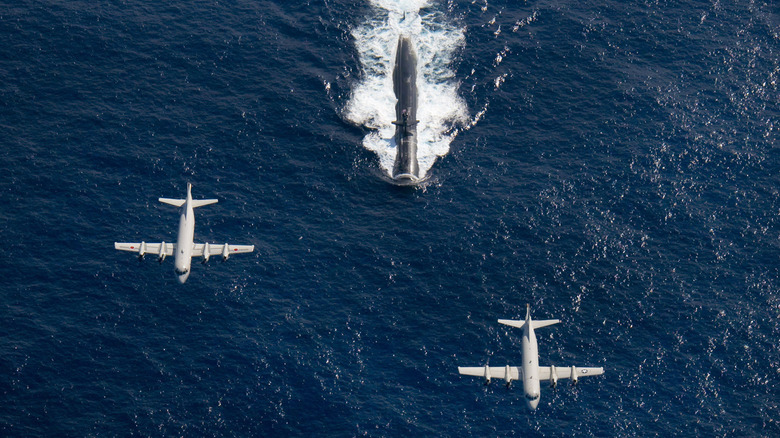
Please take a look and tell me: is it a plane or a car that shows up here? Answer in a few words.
plane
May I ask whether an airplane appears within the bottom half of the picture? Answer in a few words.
Yes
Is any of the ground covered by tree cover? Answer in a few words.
No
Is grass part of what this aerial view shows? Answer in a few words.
No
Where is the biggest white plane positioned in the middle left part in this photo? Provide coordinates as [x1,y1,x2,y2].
[115,184,254,285]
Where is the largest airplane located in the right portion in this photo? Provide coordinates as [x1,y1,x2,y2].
[459,304,604,411]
